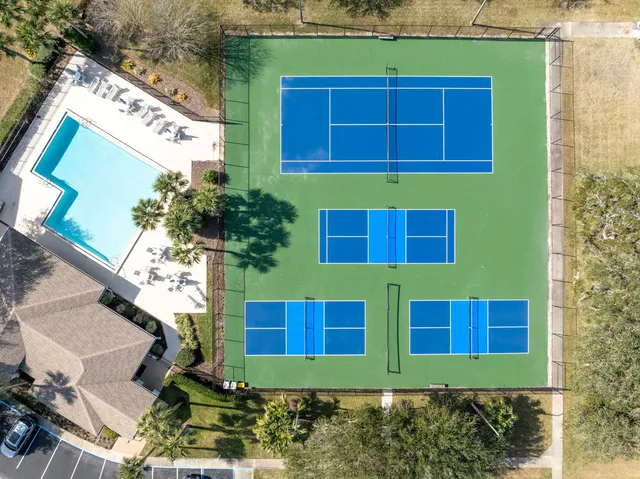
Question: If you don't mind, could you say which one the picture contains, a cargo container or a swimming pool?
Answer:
swimming pool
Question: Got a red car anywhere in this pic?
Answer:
No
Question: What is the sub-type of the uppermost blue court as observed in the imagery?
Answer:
tennis court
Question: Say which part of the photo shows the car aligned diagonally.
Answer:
bottom left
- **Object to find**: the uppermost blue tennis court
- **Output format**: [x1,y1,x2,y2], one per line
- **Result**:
[281,76,493,174]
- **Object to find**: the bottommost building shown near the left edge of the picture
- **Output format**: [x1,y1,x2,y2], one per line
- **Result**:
[0,226,172,441]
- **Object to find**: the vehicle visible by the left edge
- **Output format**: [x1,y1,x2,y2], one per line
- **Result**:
[2,413,37,456]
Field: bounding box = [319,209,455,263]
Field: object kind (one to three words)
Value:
sports court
